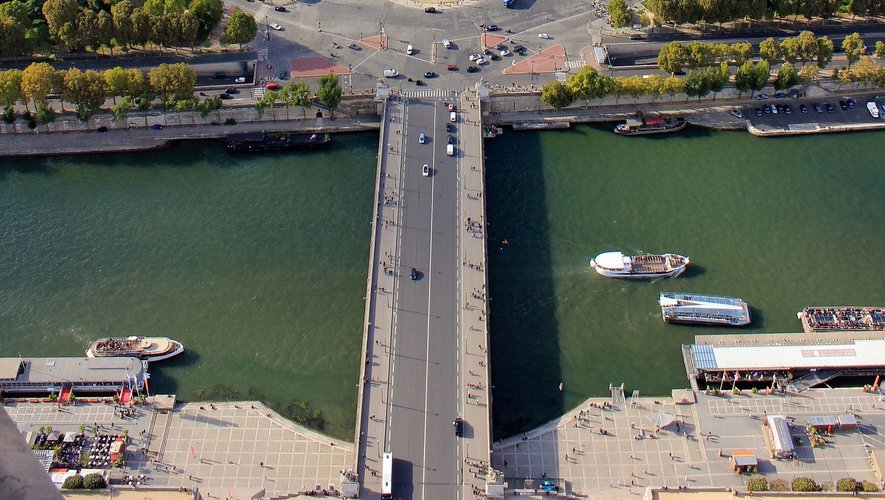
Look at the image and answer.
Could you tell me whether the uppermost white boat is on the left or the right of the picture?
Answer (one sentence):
It is on the right.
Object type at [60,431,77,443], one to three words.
umbrella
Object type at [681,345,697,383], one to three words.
pier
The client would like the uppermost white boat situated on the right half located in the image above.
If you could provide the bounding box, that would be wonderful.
[590,254,691,277]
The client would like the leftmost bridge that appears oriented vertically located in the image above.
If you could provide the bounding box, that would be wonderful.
[353,96,493,500]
